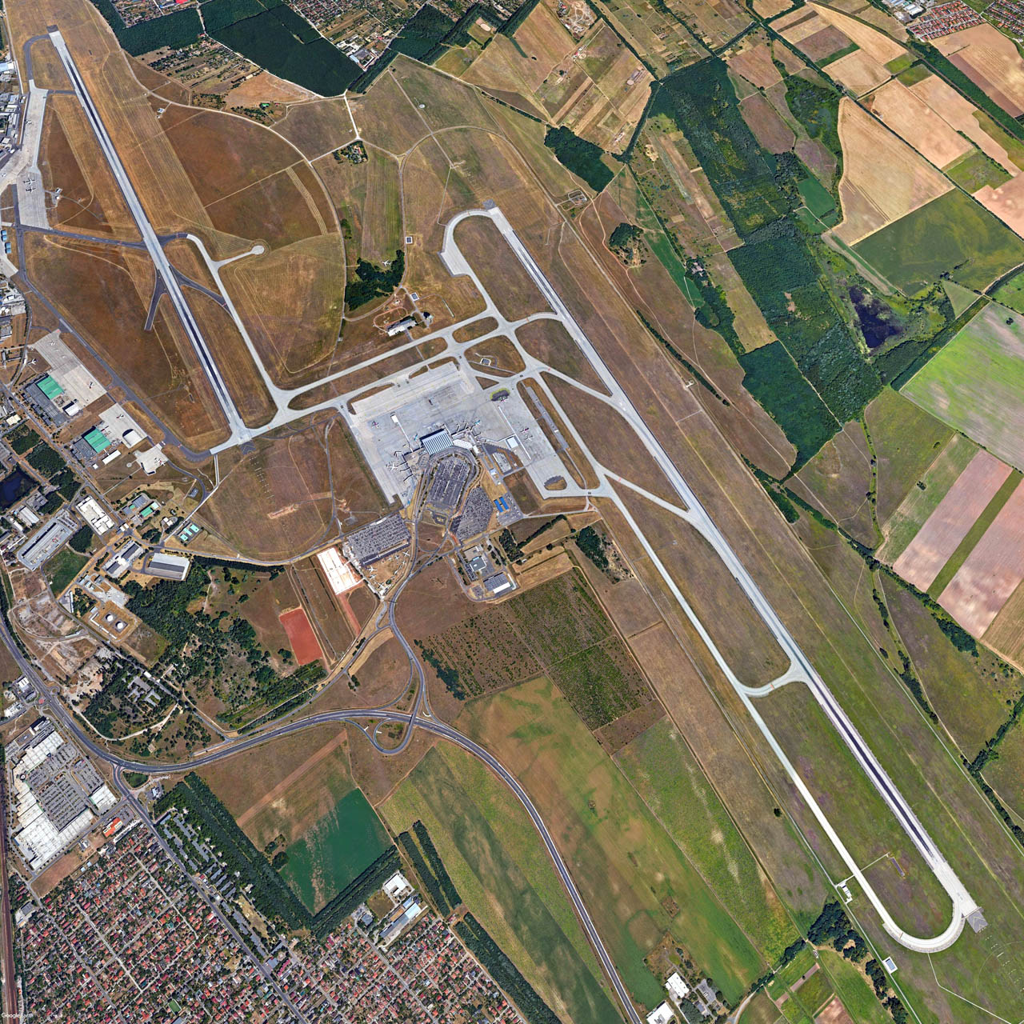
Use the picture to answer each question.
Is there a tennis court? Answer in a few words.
No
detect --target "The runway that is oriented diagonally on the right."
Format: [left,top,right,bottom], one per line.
[482,199,988,932]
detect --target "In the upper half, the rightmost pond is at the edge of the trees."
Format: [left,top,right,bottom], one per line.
[849,285,904,349]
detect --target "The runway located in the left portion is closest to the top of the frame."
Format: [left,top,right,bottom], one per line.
[46,24,255,454]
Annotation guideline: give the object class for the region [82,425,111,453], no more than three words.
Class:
hangar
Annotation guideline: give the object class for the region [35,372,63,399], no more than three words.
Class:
hangar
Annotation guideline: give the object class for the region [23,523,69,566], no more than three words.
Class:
shed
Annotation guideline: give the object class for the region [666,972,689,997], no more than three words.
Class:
building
